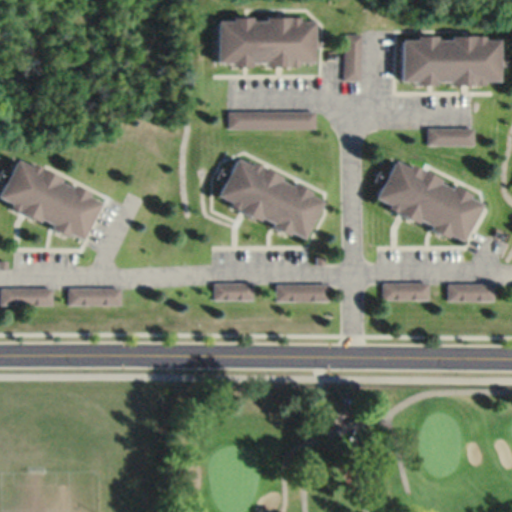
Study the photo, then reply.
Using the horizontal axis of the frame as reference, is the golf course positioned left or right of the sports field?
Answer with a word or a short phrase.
on the right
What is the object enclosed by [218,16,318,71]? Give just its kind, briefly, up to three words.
building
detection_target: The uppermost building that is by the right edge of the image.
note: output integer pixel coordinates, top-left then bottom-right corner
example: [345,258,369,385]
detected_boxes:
[402,36,504,90]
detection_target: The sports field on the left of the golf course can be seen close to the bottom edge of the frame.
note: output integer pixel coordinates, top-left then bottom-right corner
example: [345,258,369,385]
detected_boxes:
[0,472,101,512]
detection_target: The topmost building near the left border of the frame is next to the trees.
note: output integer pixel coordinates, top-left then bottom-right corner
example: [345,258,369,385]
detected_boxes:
[1,160,104,241]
